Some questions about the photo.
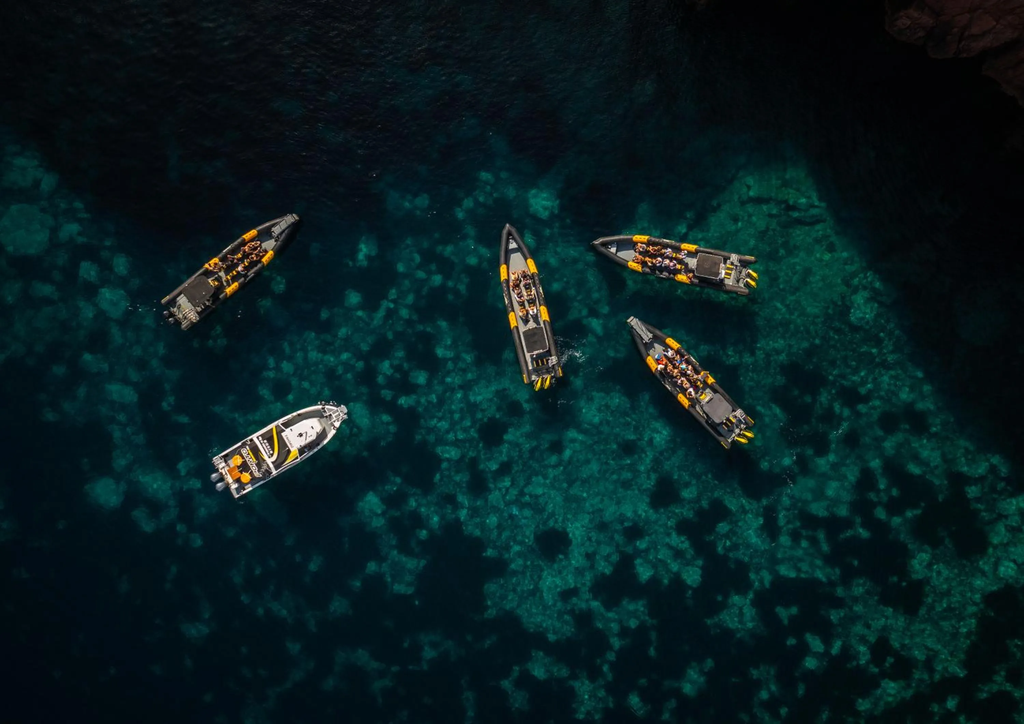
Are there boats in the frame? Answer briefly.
Yes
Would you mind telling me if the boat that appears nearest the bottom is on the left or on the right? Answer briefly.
left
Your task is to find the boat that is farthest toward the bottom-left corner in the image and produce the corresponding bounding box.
[212,401,350,497]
